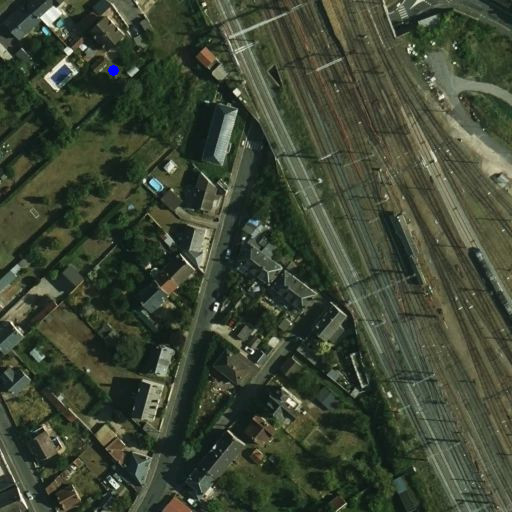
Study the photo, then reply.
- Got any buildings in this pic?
Yes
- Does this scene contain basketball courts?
No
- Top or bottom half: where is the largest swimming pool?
top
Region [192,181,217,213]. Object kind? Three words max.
house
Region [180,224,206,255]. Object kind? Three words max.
house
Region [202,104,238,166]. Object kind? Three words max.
building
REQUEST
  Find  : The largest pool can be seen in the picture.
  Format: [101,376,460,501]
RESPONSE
[45,59,78,92]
